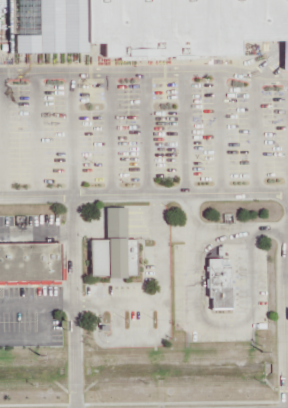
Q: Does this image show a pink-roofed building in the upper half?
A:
No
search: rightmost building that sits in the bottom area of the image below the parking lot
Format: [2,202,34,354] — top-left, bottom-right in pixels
[206,244,234,310]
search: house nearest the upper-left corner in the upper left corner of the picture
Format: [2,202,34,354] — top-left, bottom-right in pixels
[16,0,42,34]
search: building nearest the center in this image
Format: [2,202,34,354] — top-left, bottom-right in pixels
[90,208,142,278]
